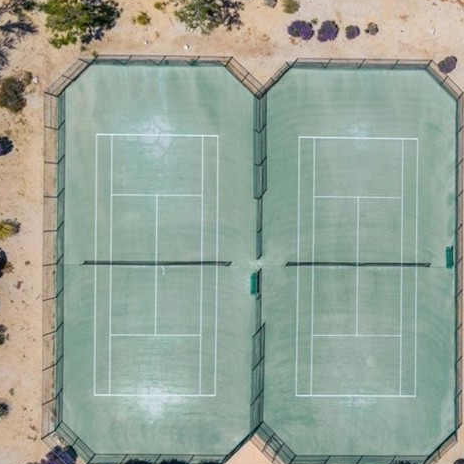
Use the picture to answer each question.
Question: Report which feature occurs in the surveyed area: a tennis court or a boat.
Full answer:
The one in the frame is a tennis court.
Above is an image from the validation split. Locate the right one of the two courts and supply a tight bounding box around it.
[256,63,456,464]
